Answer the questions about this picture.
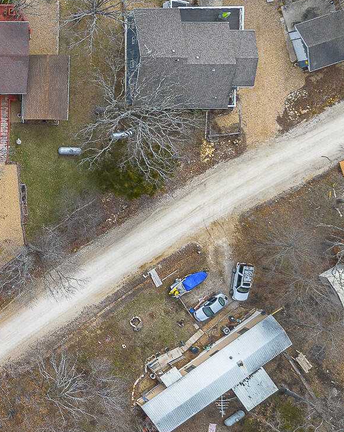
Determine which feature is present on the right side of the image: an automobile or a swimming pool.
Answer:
automobile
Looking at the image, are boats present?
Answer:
Yes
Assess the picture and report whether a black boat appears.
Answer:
No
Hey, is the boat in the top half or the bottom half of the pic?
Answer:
bottom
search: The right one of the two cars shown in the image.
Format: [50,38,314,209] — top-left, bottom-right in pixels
[229,262,255,302]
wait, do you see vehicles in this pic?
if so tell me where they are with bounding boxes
[229,262,255,302]
[191,291,230,323]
